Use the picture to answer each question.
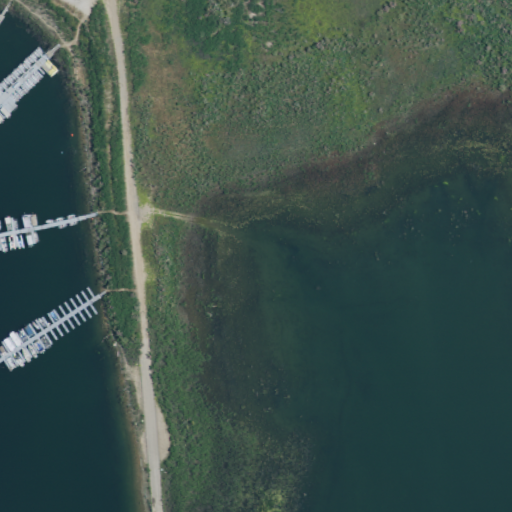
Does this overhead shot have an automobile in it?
No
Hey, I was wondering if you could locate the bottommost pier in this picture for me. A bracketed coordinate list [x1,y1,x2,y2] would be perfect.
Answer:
[0,288,108,364]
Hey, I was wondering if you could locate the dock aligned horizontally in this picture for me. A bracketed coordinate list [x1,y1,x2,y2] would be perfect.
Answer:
[0,212,97,247]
